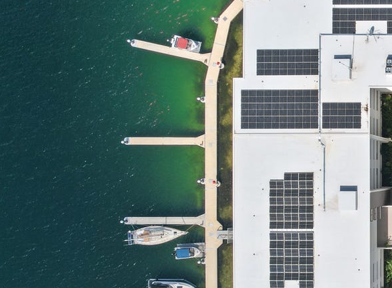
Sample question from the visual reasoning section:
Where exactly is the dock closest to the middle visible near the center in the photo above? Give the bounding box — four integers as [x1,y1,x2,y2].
[123,134,205,148]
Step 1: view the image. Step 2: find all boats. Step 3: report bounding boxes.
[172,247,202,259]
[169,35,202,50]
[147,283,194,288]
[124,226,187,245]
